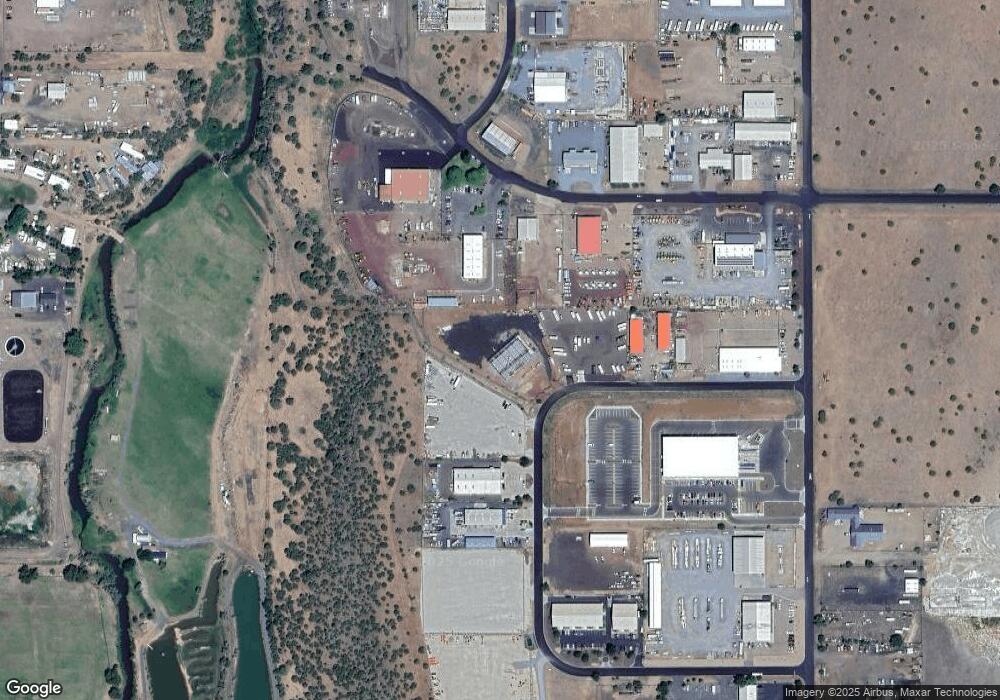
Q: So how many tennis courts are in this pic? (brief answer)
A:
zero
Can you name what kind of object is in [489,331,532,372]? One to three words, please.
building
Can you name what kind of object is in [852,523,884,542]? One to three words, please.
barn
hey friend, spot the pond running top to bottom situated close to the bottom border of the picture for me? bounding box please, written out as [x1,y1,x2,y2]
[233,571,271,700]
